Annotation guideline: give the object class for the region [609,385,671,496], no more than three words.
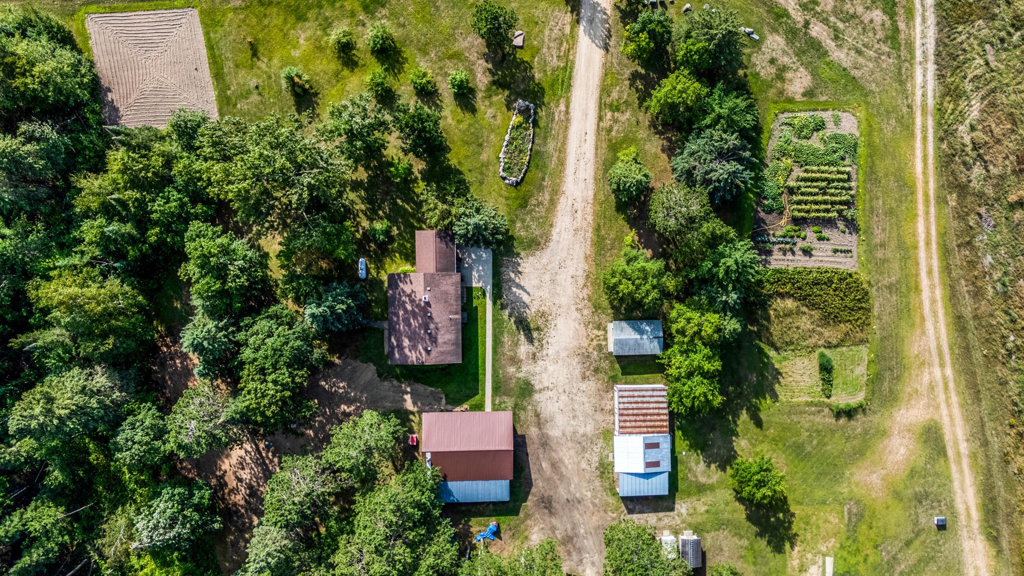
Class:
shed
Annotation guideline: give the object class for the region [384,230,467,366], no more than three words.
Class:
house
